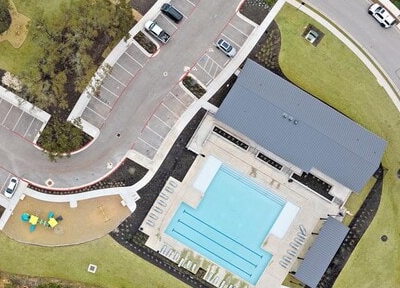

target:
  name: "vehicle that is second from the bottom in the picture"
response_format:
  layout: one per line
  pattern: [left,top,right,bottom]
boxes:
[215,39,236,57]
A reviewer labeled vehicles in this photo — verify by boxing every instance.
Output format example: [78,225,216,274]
[368,6,394,27]
[4,176,20,199]
[143,21,170,44]
[160,3,183,23]
[215,39,236,57]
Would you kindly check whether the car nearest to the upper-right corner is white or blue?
white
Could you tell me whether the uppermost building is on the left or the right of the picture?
right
